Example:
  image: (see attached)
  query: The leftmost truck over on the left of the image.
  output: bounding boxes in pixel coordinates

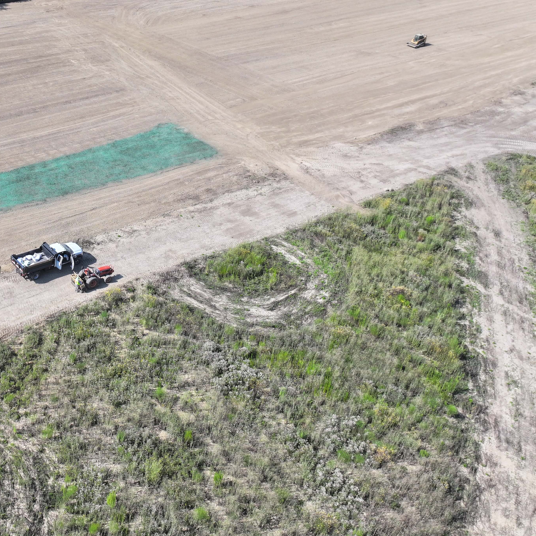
[9,240,87,282]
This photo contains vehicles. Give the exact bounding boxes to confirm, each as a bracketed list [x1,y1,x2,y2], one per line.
[9,240,87,282]
[78,265,112,291]
[406,31,433,48]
